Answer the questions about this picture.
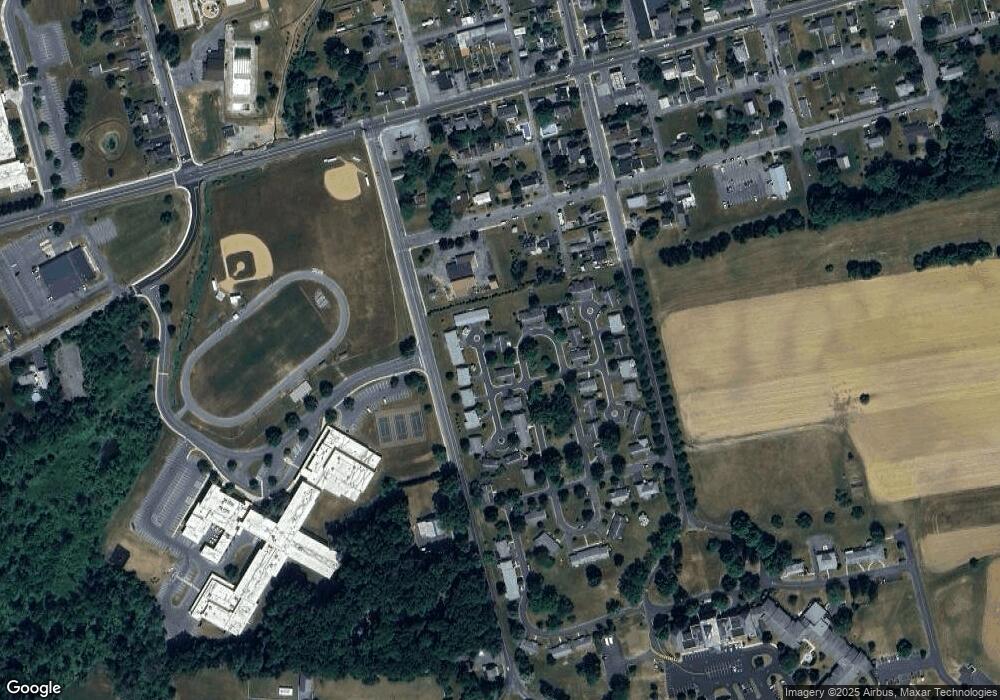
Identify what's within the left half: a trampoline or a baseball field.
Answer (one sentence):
It is a baseball field that can be seen within the left half.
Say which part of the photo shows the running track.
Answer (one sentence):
The running track sits in the left section of the image.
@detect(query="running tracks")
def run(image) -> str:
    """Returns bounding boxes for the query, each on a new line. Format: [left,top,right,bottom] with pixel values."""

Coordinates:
[182,269,349,427]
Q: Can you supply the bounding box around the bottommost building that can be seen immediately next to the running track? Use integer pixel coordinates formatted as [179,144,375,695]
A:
[183,425,382,636]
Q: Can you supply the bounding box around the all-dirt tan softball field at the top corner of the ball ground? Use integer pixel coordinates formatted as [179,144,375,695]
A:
[324,159,360,200]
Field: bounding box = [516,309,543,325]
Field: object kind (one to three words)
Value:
house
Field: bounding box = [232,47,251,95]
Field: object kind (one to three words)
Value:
swimming pool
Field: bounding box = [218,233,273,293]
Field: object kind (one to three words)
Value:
baseball field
